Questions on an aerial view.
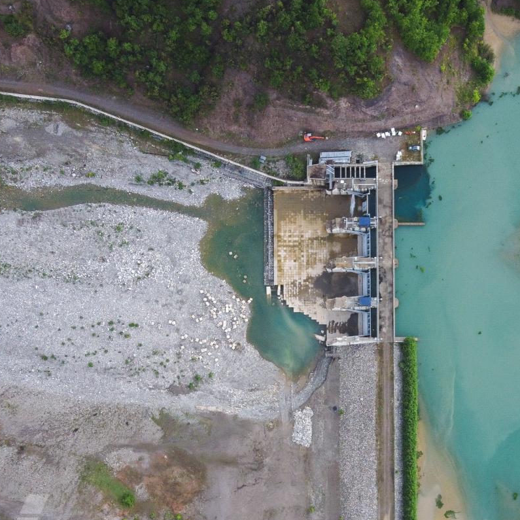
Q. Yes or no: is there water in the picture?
Yes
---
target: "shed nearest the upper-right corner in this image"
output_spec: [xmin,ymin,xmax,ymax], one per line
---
[319,151,352,166]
